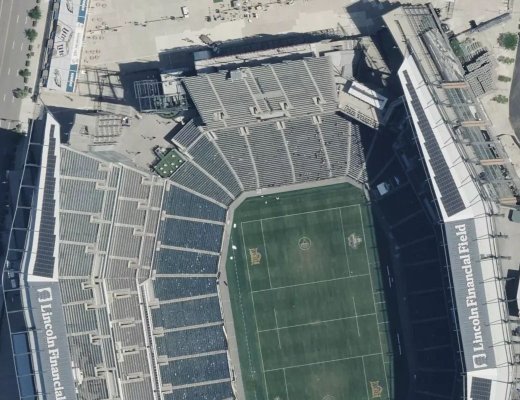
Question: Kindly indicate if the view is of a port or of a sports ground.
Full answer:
The picture captures a sports ground.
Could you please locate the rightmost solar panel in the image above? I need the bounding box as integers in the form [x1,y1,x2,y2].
[469,377,493,400]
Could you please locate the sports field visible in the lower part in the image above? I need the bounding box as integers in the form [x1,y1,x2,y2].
[226,182,418,400]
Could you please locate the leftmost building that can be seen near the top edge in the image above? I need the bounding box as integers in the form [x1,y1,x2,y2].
[42,0,99,92]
